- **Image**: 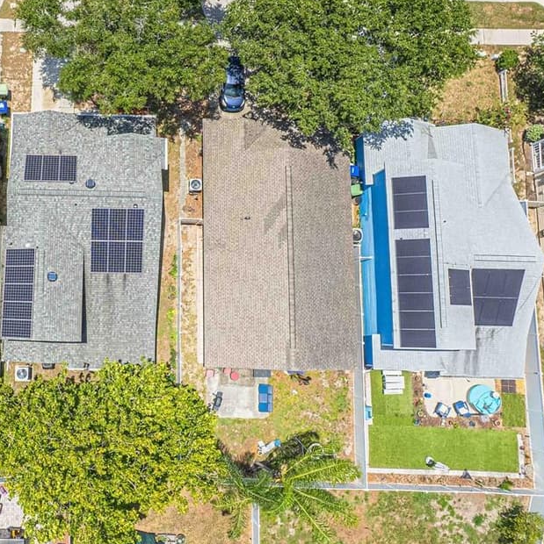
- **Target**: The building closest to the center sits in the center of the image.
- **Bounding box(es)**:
[200,117,362,370]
